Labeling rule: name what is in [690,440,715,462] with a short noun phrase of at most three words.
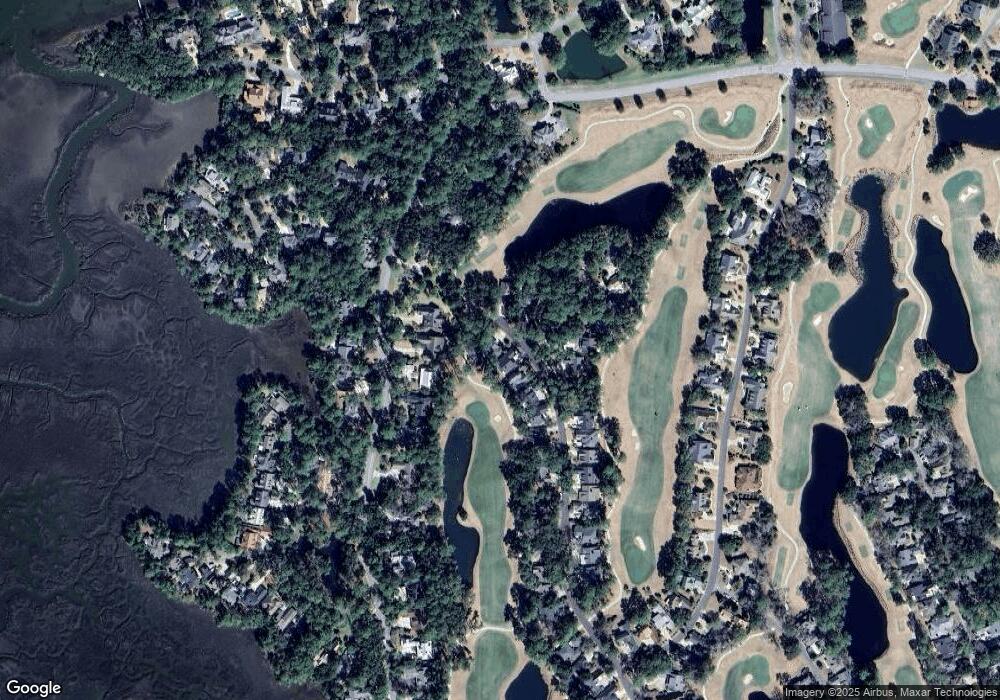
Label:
house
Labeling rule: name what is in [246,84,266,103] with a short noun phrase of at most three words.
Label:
house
